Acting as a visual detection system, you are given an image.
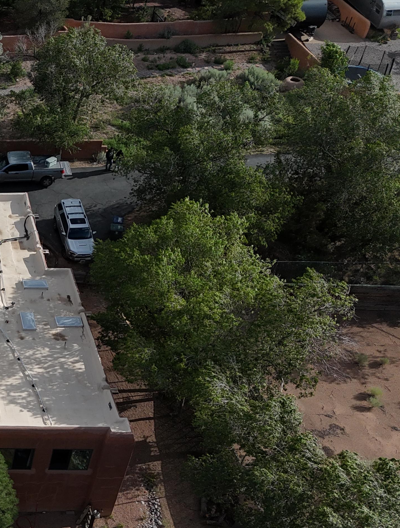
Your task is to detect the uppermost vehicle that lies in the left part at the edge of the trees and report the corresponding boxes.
[0,148,74,187]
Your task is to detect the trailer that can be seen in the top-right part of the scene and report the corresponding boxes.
[351,0,400,24]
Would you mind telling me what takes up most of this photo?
trees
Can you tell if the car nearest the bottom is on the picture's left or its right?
left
